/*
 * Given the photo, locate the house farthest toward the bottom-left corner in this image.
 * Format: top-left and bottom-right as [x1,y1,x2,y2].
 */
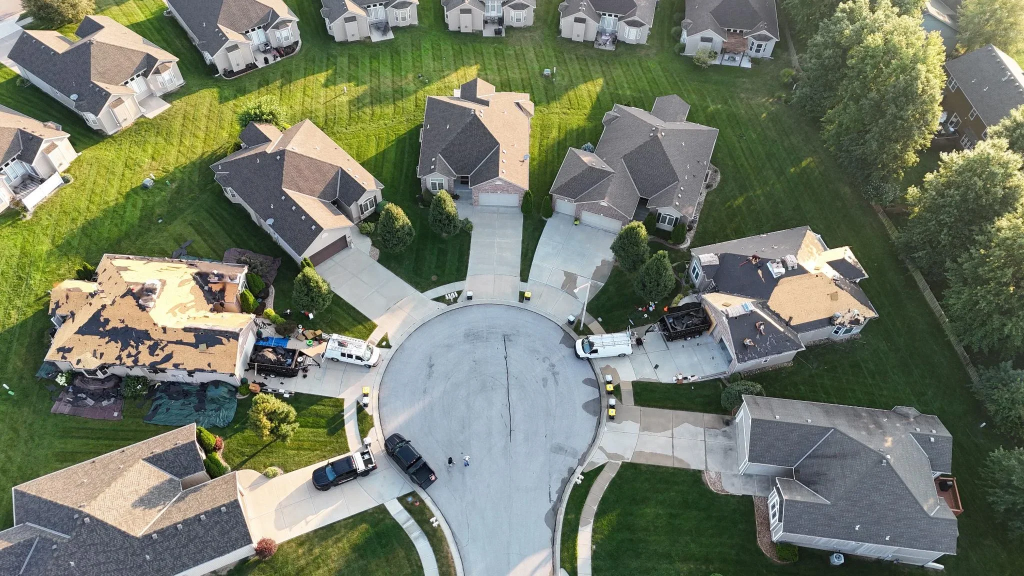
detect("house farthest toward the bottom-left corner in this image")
[0,422,255,576]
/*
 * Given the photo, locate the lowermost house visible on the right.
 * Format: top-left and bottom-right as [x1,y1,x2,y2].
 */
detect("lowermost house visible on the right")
[736,392,961,568]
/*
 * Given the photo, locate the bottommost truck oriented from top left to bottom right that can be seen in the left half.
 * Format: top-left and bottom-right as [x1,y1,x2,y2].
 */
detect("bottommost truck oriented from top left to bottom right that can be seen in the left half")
[383,429,436,494]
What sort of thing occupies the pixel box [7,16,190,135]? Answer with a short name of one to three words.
house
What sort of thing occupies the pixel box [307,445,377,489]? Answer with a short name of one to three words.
truck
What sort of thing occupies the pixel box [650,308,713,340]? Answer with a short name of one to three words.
trailer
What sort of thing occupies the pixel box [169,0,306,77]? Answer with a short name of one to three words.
house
